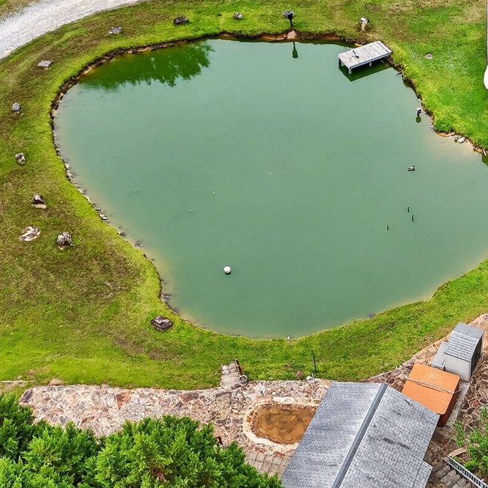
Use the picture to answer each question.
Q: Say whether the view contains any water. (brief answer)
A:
Yes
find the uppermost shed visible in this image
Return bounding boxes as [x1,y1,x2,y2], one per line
[442,325,483,379]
